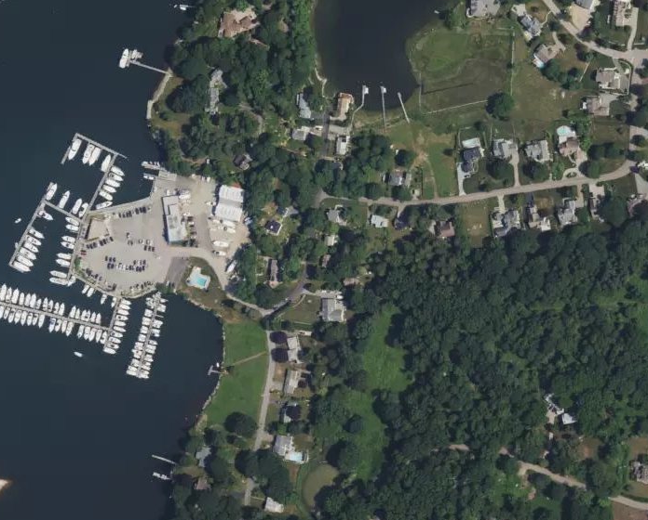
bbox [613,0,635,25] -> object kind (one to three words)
house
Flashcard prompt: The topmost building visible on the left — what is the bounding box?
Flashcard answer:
[218,12,255,37]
